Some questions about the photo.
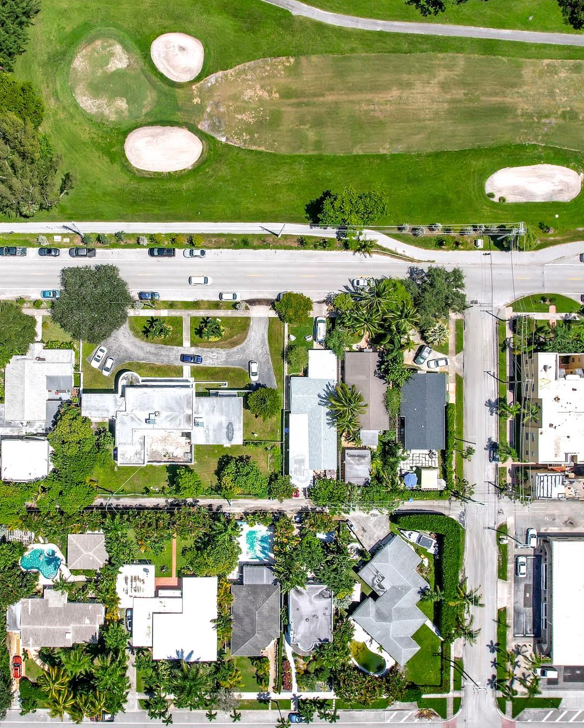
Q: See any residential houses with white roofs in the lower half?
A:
Yes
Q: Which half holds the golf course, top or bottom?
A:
top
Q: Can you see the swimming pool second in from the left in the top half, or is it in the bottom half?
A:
bottom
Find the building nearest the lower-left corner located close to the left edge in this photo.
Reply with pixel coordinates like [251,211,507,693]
[7,587,104,651]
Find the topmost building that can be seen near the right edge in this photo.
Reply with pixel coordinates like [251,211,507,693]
[520,353,584,463]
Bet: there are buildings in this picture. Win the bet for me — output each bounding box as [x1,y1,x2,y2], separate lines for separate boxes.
[231,563,280,655]
[5,343,74,429]
[67,533,107,570]
[118,561,217,662]
[81,371,252,465]
[399,373,445,450]
[526,468,584,499]
[351,535,429,667]
[342,448,370,484]
[541,535,584,665]
[520,353,584,463]
[344,348,389,445]
[7,587,104,651]
[287,349,338,487]
[1,437,51,481]
[289,579,332,651]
